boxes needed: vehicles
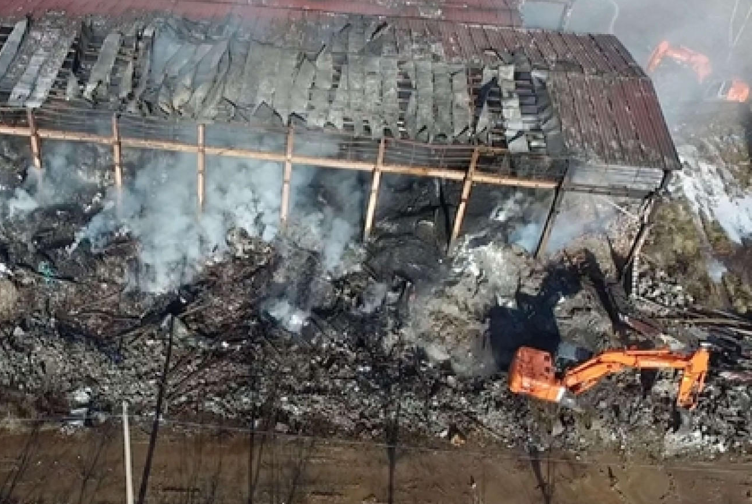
[646,36,752,121]
[501,338,706,422]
